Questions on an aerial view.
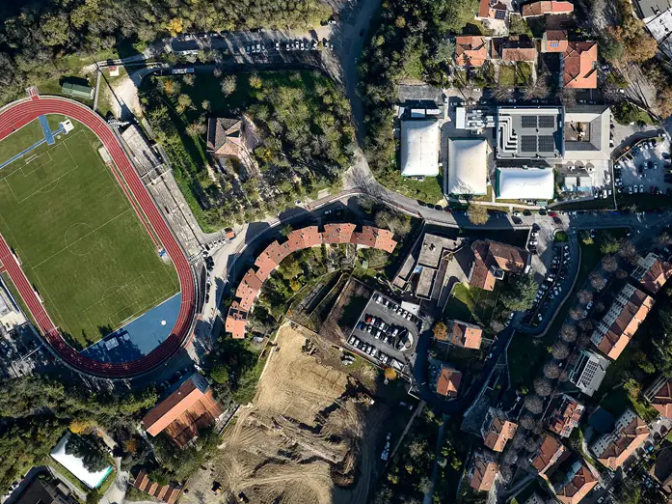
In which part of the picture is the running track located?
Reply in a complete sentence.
You can find the running track in the left area of the picture.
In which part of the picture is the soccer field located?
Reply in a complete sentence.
The soccer field is located in the left region of the scene.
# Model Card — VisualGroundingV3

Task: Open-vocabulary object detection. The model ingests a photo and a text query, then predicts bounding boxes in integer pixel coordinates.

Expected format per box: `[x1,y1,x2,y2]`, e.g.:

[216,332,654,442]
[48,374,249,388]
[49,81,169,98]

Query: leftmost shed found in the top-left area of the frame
[61,82,96,99]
